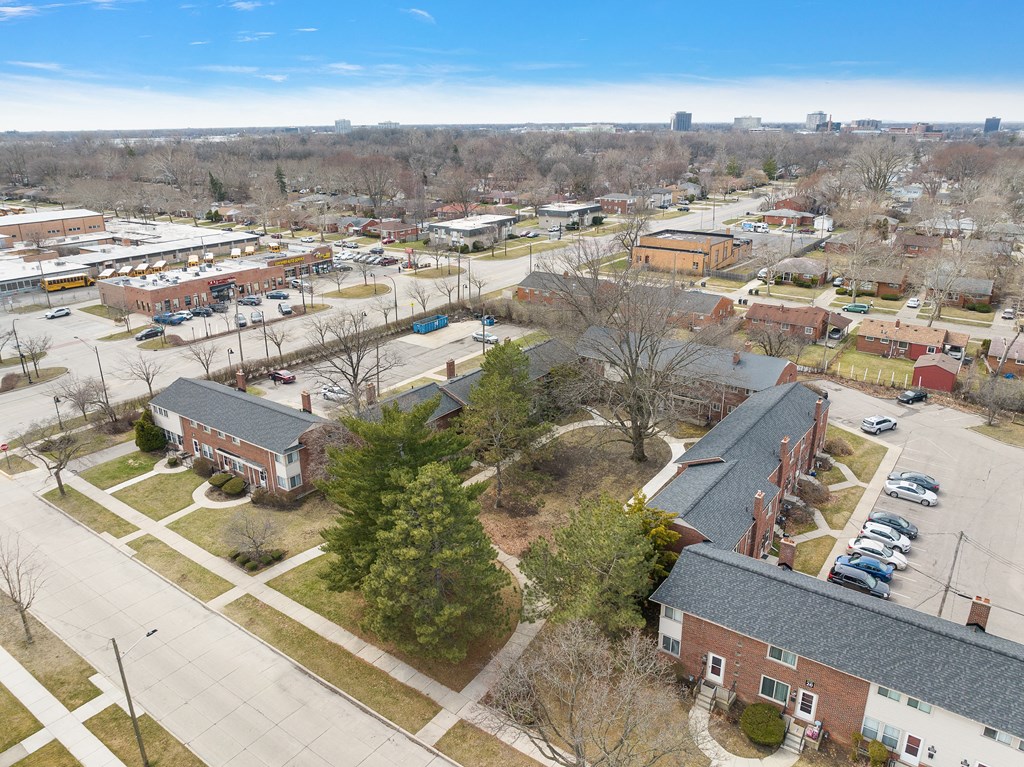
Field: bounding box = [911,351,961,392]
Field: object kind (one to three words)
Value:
shed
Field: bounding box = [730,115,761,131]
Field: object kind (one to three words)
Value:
building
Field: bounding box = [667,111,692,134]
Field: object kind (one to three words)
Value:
building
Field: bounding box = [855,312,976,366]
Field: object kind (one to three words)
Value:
house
